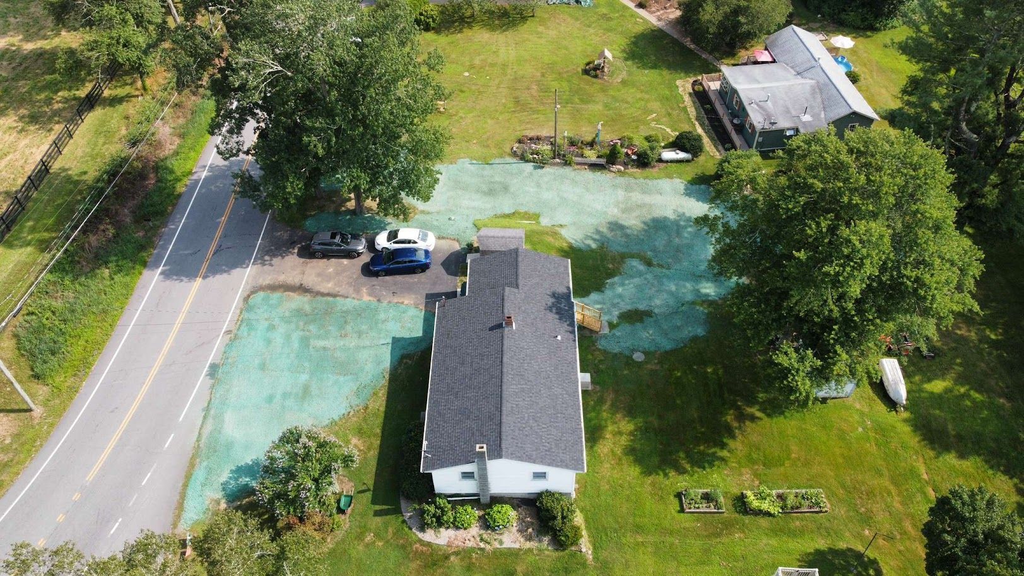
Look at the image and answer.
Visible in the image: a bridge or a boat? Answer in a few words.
boat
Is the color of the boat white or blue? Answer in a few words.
white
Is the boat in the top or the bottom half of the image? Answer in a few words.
bottom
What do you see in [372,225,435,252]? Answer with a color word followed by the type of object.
white car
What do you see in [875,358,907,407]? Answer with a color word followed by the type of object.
white boat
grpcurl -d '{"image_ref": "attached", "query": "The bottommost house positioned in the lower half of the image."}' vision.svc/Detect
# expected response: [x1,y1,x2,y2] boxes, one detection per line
[417,247,588,505]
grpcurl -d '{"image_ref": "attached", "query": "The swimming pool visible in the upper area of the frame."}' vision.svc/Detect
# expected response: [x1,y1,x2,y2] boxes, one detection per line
[832,57,861,75]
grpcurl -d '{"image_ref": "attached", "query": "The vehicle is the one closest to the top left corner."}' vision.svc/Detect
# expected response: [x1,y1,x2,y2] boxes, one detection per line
[305,229,367,260]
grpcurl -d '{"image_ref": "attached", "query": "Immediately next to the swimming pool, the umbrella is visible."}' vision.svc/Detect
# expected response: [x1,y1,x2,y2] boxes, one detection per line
[828,37,856,55]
